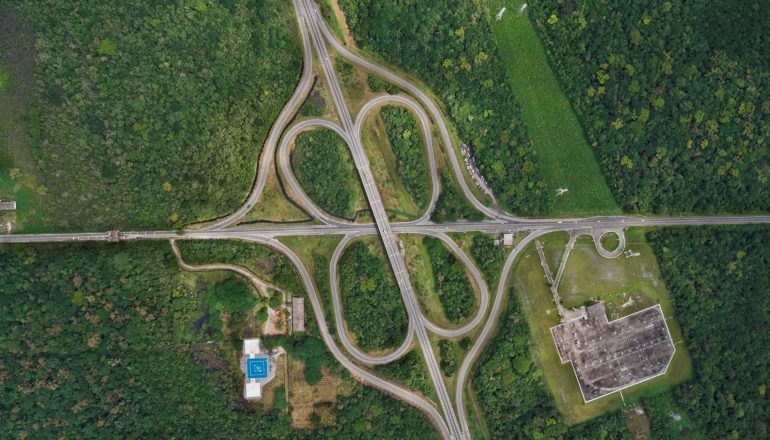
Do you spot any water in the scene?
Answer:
No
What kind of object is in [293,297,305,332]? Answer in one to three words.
building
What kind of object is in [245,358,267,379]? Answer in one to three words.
helipad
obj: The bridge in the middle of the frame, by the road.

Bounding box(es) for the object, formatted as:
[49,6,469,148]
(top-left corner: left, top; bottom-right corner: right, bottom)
[353,156,414,296]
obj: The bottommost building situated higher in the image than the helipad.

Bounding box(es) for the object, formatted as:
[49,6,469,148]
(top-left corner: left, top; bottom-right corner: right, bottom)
[244,338,262,358]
